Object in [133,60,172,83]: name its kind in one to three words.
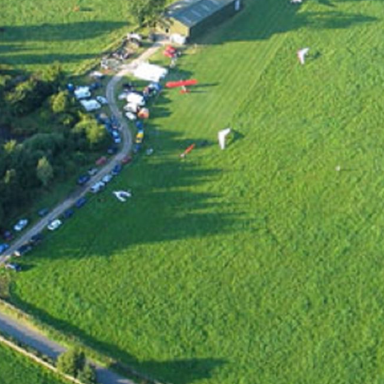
tent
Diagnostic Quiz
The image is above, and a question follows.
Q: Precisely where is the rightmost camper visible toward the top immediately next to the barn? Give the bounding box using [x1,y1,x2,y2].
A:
[169,34,186,47]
